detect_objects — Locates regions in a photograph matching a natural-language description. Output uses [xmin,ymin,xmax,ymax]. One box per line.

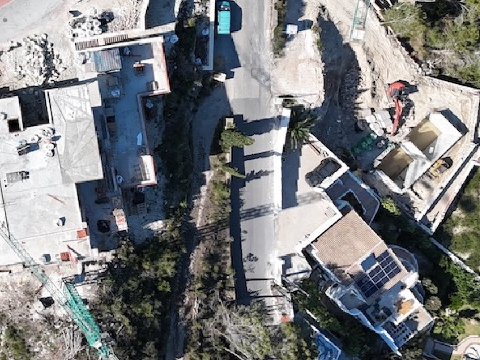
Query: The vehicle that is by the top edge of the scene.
[214,0,230,40]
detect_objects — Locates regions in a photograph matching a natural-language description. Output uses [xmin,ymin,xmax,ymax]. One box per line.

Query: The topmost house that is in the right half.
[368,111,463,194]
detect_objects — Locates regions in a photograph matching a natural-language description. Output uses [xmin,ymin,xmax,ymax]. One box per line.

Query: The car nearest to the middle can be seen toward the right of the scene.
[302,158,338,185]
